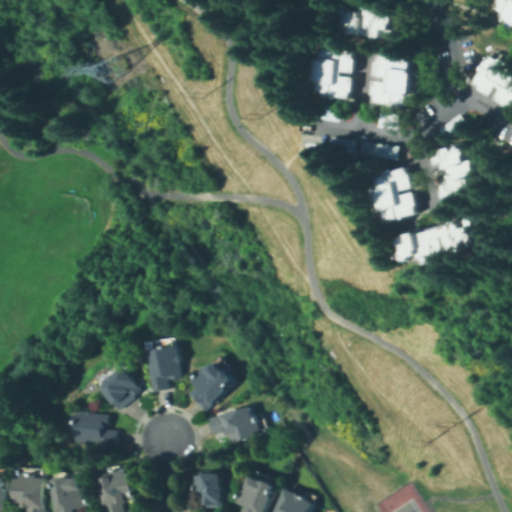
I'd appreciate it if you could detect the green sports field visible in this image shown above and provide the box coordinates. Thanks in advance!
[0,158,110,362]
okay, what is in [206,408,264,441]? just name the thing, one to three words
house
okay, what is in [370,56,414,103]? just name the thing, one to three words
building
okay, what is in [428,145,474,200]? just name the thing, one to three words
building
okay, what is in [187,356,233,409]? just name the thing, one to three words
house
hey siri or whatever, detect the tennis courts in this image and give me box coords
[378,483,430,512]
